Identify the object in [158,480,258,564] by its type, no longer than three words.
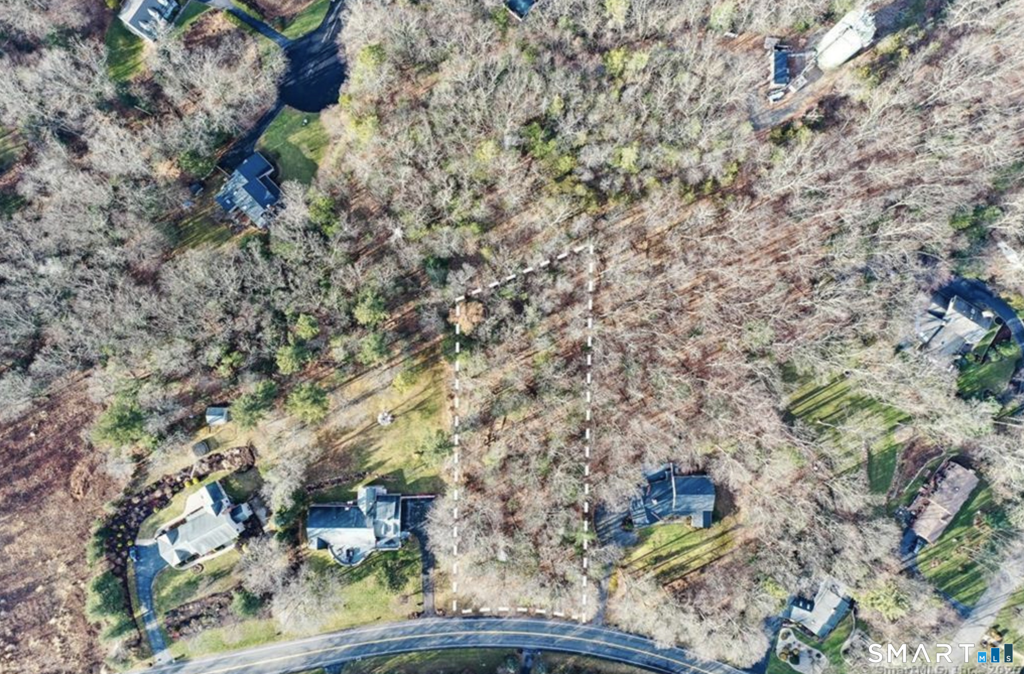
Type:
house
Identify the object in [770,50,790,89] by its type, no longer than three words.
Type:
building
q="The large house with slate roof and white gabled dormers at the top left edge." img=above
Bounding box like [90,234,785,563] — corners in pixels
[118,0,195,48]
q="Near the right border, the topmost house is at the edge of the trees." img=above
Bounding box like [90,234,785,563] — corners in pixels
[915,293,991,360]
